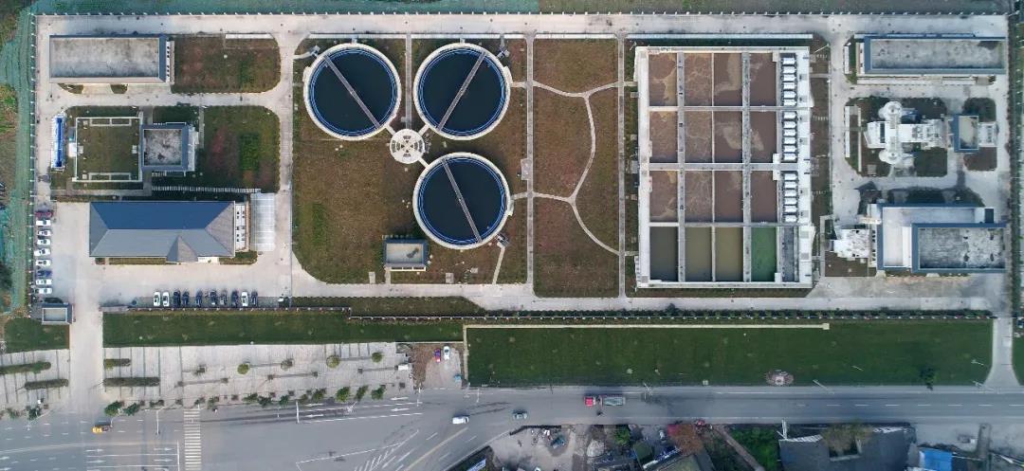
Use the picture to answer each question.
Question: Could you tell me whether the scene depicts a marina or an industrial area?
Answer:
industrial area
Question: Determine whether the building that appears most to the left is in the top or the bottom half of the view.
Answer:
bottom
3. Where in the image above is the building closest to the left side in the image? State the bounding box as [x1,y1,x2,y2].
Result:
[41,303,78,326]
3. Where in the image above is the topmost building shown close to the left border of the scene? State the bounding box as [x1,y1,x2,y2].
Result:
[50,34,178,84]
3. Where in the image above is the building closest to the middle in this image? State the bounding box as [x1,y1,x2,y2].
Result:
[383,235,429,273]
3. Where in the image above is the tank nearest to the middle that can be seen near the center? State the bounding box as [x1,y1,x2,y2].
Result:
[413,152,514,250]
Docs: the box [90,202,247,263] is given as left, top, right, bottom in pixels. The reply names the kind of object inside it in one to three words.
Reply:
building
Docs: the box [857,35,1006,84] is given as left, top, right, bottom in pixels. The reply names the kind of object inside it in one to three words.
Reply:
building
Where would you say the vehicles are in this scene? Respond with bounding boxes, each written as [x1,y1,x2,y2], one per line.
[209,291,217,306]
[194,291,202,306]
[219,291,227,306]
[452,417,468,425]
[36,230,51,236]
[33,220,51,227]
[35,270,51,277]
[33,248,49,256]
[250,291,257,306]
[151,291,160,306]
[512,412,528,420]
[36,239,51,245]
[230,291,238,306]
[171,291,180,306]
[34,260,50,267]
[35,279,51,286]
[434,348,440,363]
[240,291,247,306]
[160,291,169,306]
[43,295,60,302]
[35,213,52,220]
[180,291,189,306]
[586,397,627,407]
[443,345,450,361]
[91,425,110,433]
[35,288,51,295]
